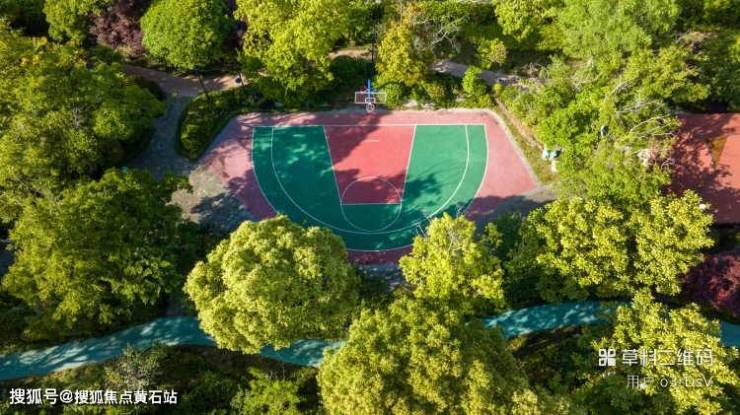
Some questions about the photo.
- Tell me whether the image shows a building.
No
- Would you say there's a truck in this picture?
No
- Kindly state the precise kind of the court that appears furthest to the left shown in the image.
basketball court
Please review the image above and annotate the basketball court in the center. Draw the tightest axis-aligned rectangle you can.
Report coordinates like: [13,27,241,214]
[206,107,542,264]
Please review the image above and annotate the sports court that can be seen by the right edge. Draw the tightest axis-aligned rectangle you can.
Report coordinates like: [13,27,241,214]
[634,112,740,224]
